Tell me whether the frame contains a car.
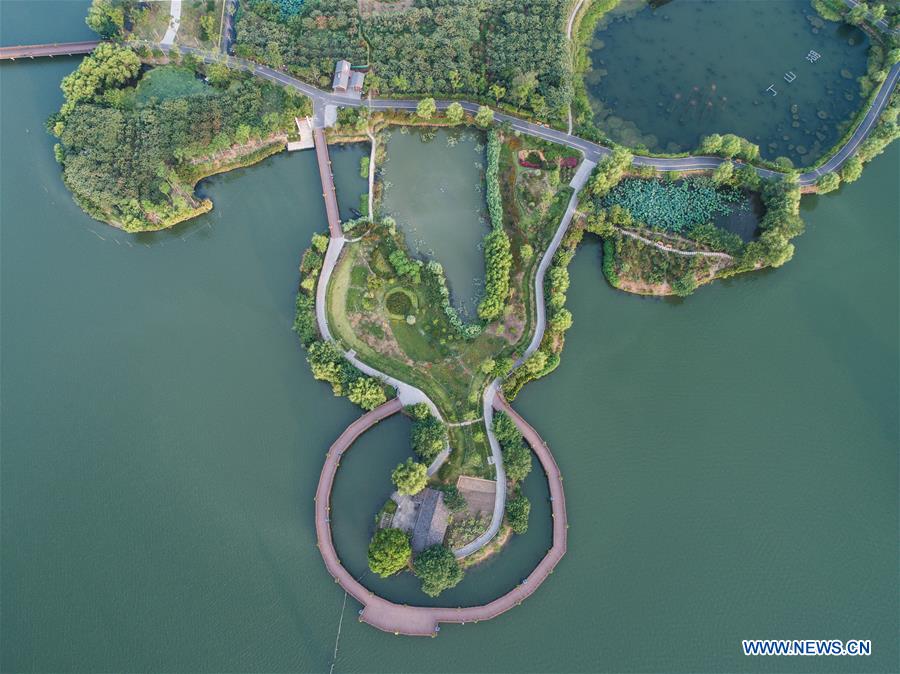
No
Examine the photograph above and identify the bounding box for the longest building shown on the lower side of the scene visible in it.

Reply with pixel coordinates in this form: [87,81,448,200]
[412,488,451,550]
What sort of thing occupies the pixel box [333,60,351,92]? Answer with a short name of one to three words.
house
